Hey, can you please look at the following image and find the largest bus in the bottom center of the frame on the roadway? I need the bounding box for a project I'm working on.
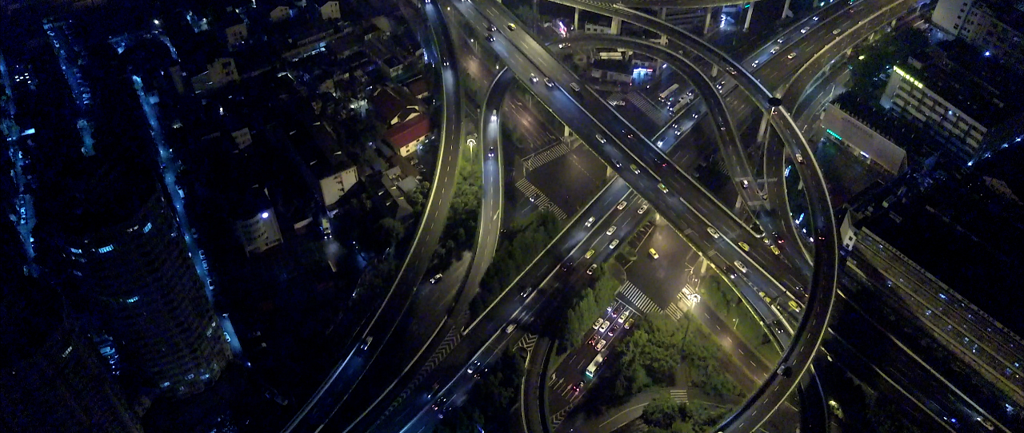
[582,346,608,379]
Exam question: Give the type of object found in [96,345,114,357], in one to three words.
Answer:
vehicle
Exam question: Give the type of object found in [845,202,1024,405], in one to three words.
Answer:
building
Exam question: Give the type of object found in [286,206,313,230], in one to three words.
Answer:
shed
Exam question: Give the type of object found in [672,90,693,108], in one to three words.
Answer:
vehicle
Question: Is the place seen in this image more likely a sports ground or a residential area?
residential area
